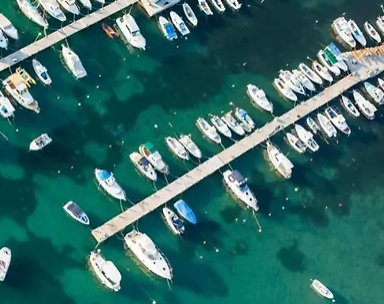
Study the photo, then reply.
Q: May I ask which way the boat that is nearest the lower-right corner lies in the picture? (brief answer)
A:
at an angle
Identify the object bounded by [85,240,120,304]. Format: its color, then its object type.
white boat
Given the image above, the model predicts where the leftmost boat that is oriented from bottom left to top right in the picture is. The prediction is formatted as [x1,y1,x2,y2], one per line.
[27,133,51,154]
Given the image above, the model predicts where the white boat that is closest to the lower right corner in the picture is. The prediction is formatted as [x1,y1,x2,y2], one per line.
[307,279,334,299]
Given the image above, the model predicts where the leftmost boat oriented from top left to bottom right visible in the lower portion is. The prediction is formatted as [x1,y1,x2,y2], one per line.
[64,201,90,224]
